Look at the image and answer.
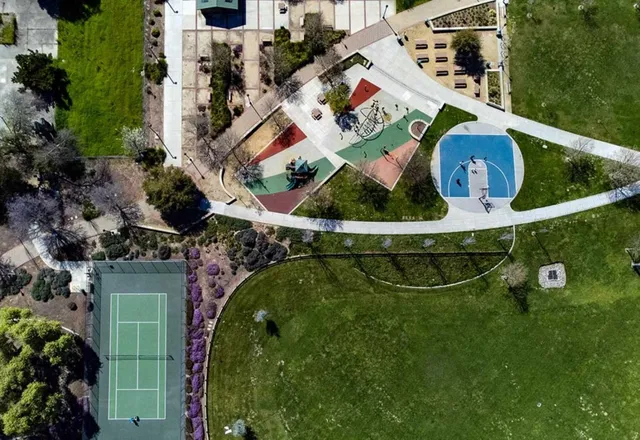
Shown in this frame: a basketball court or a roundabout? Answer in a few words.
basketball court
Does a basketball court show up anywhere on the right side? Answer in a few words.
Yes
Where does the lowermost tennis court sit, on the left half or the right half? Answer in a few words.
left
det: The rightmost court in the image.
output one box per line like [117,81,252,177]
[431,121,524,213]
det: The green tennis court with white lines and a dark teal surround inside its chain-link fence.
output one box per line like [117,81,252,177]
[88,262,186,440]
